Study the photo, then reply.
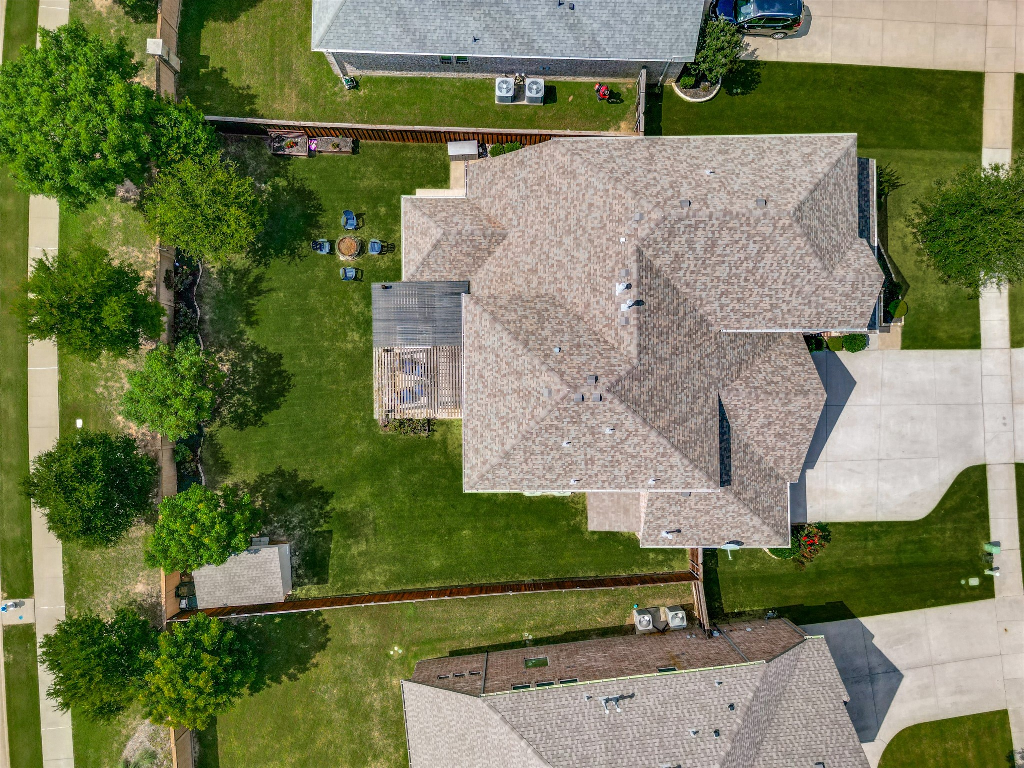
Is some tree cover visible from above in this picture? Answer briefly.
Yes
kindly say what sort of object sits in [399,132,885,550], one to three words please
house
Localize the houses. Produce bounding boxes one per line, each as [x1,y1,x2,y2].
[310,0,705,94]
[404,614,873,768]
[399,132,885,550]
